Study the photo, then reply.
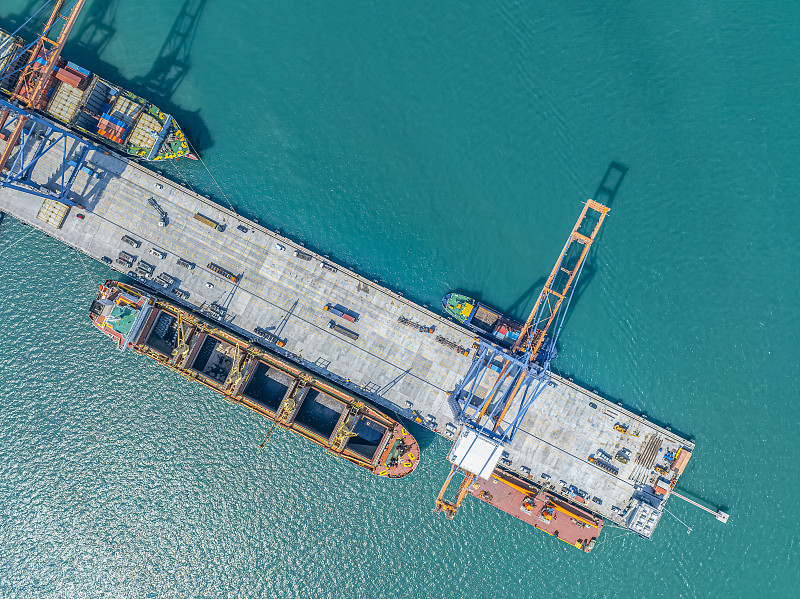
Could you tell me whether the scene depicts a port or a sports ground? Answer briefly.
port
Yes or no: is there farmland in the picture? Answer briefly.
No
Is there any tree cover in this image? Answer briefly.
No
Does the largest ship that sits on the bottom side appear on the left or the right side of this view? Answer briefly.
left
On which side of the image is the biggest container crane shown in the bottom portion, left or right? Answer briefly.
right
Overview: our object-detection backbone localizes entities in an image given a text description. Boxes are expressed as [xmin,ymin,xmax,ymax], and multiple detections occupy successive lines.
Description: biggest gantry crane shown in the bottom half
[429,198,612,523]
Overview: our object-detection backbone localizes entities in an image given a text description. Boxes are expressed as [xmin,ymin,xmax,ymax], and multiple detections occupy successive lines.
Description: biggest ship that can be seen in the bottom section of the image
[83,280,421,479]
